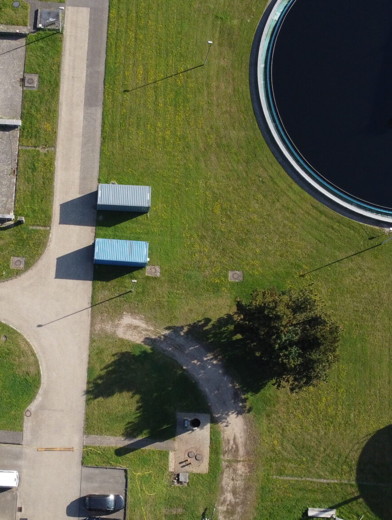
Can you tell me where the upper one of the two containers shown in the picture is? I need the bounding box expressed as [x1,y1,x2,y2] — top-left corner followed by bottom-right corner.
[97,184,151,213]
